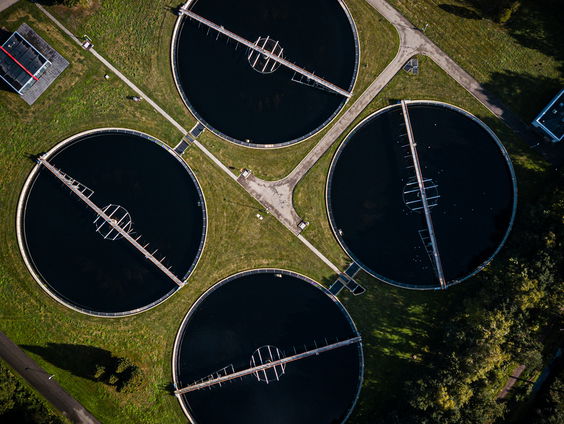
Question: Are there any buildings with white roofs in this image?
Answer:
No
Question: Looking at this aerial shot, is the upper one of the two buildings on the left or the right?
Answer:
left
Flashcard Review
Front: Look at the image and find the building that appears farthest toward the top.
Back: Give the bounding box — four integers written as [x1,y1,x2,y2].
[0,31,52,95]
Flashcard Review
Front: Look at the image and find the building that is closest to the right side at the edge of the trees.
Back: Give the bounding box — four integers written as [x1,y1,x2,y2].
[533,87,564,142]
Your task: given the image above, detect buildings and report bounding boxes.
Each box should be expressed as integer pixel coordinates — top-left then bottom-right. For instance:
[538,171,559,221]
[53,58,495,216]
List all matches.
[533,87,564,142]
[0,31,52,95]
